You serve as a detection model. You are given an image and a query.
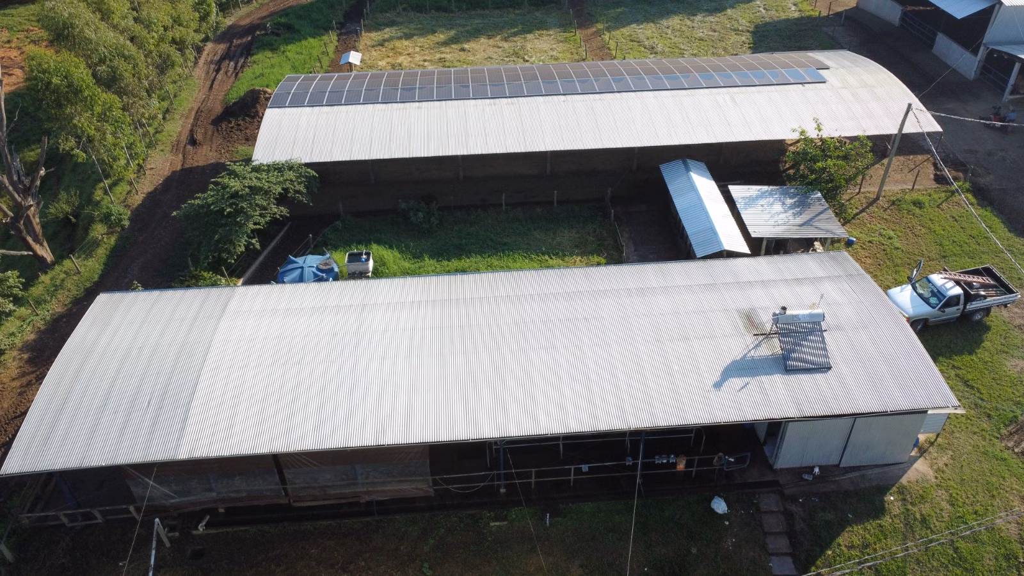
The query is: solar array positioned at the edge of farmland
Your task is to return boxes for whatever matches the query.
[270,51,828,106]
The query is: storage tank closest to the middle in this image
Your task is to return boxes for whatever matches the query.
[343,250,374,278]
